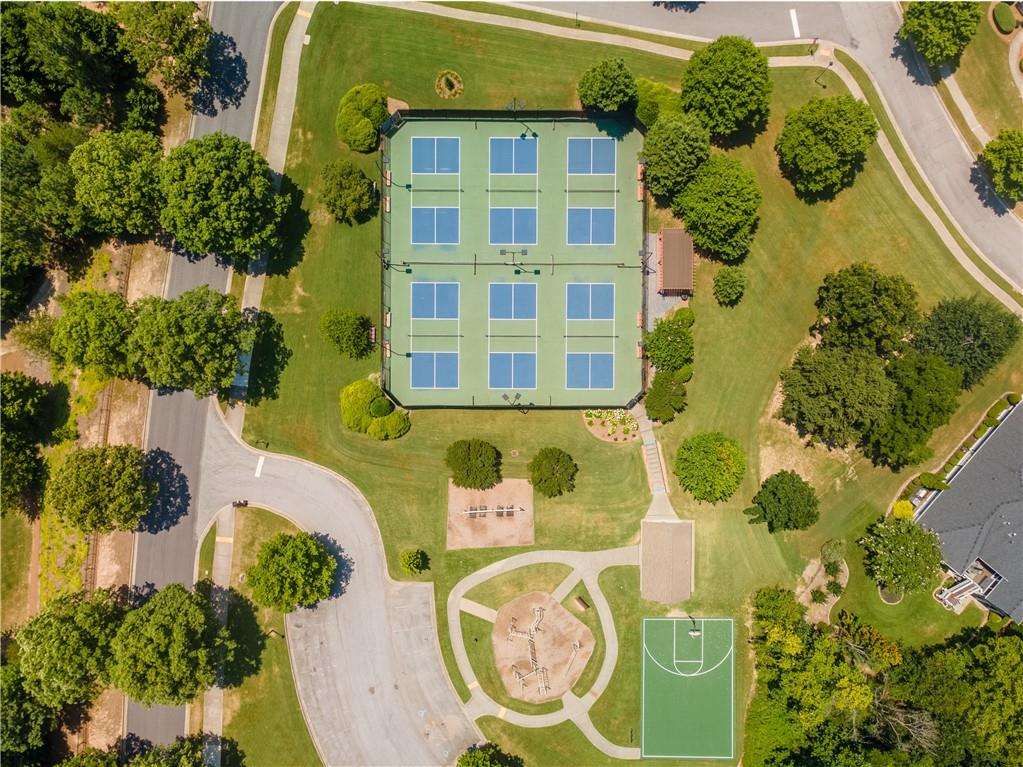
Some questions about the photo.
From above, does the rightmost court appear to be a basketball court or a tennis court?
basketball court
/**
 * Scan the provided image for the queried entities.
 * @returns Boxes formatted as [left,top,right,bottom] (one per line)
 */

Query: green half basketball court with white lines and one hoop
[640,616,734,760]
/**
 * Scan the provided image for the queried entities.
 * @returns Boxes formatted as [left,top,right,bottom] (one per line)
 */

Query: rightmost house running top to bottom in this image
[911,387,1023,622]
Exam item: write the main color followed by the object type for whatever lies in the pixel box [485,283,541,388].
blue sports court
